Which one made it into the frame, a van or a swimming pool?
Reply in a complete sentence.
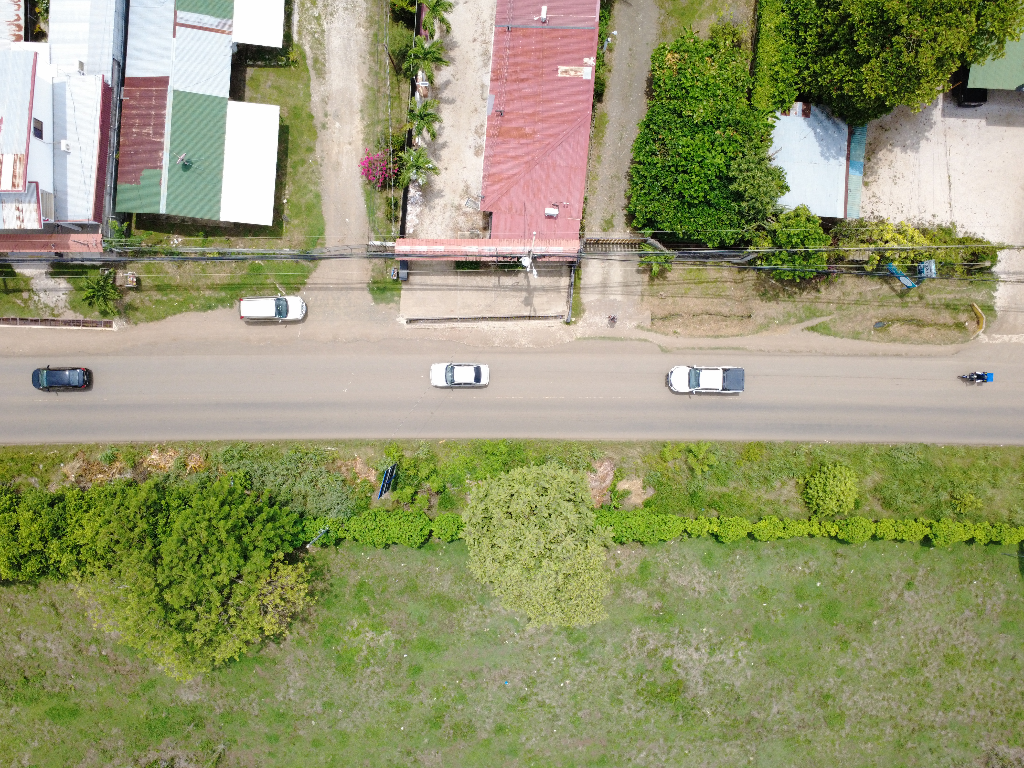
It is a van that can be seen here.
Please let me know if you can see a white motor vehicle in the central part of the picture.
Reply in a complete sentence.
Yes, in the central part of the picture there is a white motor vehicle.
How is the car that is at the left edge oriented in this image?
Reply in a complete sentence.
The car that is at the left edge is oriented from side to side.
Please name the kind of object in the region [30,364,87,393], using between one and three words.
car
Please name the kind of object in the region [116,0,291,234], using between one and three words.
building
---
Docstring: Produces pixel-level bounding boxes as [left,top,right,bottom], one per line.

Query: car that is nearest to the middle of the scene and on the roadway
[429,361,490,389]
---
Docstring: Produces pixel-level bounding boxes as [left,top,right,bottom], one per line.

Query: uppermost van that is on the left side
[242,293,309,324]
